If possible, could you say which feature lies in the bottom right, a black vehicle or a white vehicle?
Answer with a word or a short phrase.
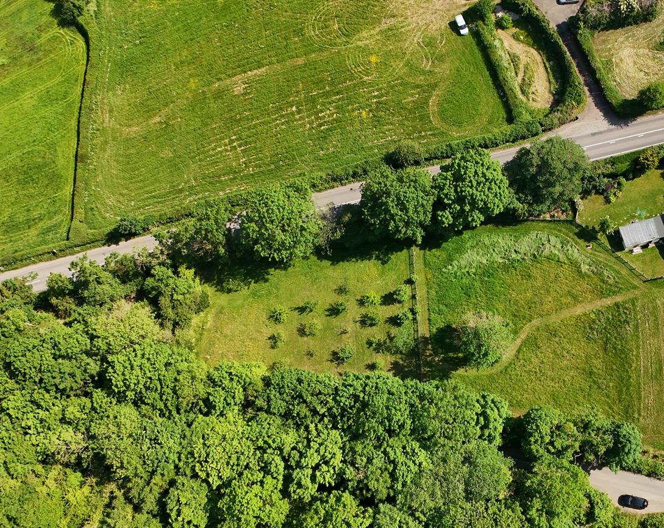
black vehicle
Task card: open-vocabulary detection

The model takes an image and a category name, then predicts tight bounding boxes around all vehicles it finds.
[558,0,579,6]
[618,493,648,509]
[453,11,470,37]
